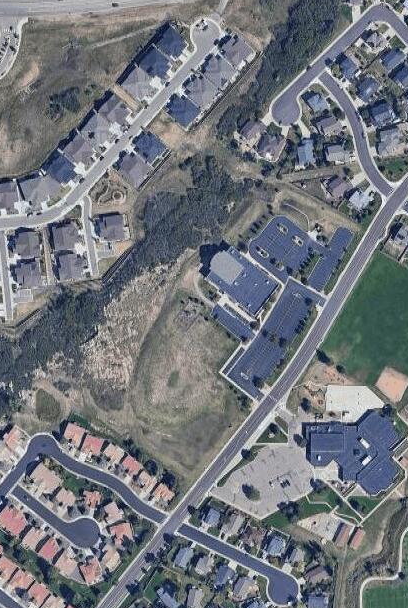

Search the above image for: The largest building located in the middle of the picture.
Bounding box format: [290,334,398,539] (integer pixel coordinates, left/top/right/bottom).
[204,247,280,317]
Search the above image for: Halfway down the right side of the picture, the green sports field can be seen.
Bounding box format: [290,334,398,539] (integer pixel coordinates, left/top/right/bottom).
[321,251,408,408]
